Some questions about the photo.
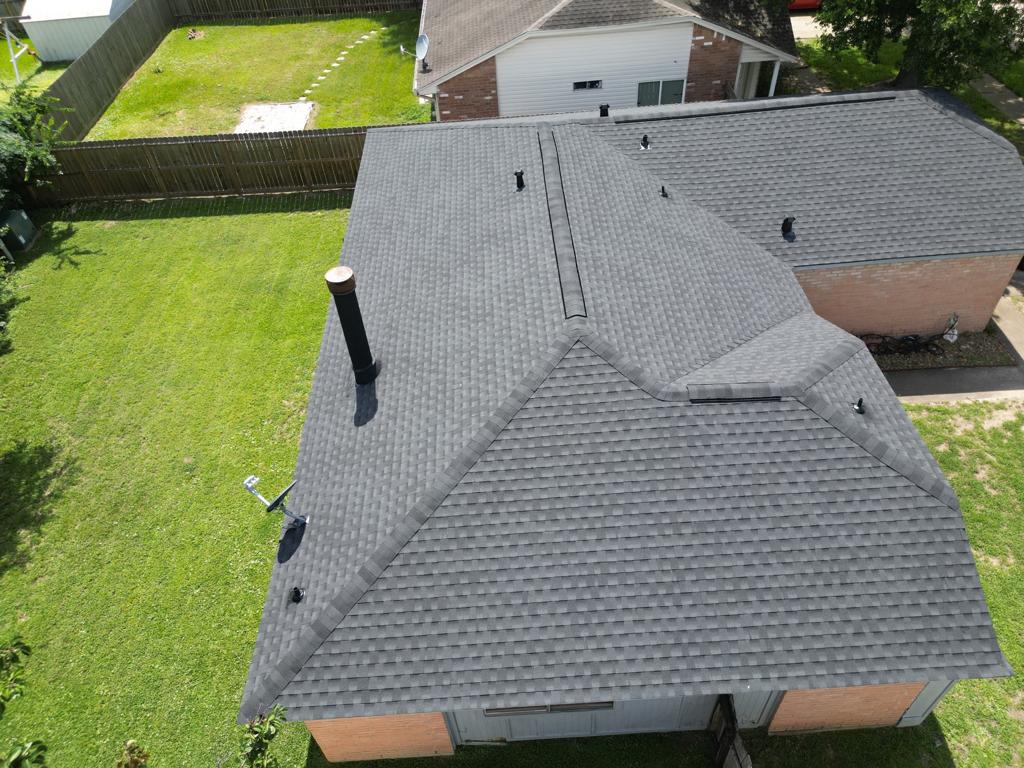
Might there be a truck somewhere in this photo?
No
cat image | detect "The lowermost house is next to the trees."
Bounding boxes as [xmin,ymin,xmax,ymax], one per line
[235,87,1024,764]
